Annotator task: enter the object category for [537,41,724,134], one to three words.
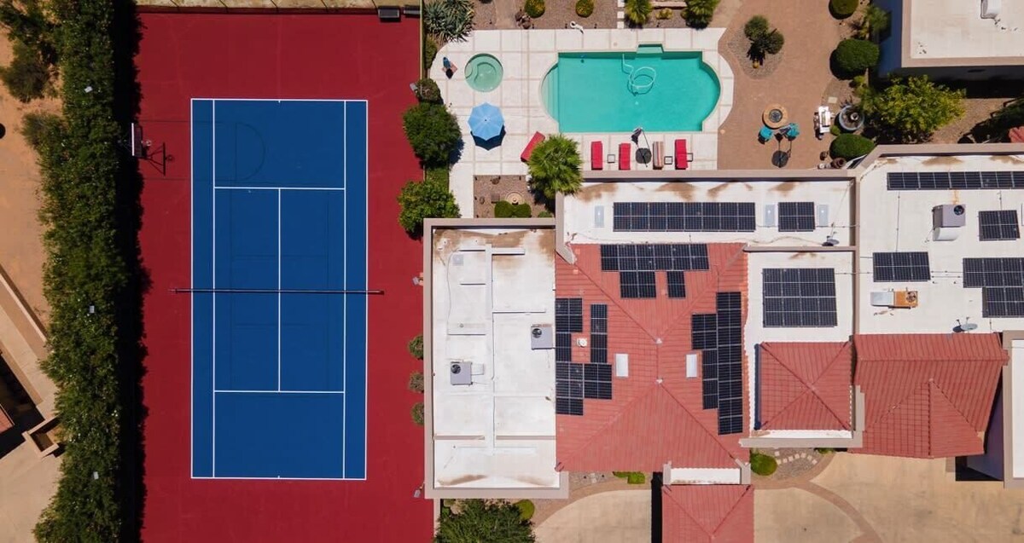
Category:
swimming pool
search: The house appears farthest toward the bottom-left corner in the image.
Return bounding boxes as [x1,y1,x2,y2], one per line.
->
[0,361,43,449]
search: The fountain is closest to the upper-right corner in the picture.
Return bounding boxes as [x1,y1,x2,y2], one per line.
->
[837,105,863,130]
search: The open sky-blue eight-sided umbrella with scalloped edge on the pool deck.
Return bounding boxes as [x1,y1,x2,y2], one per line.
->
[467,103,505,140]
